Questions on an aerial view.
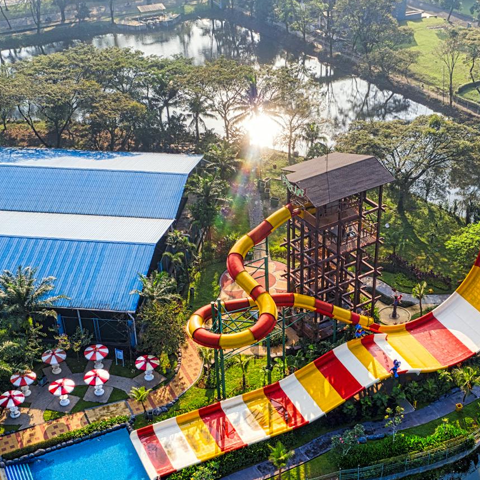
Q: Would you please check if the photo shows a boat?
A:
No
